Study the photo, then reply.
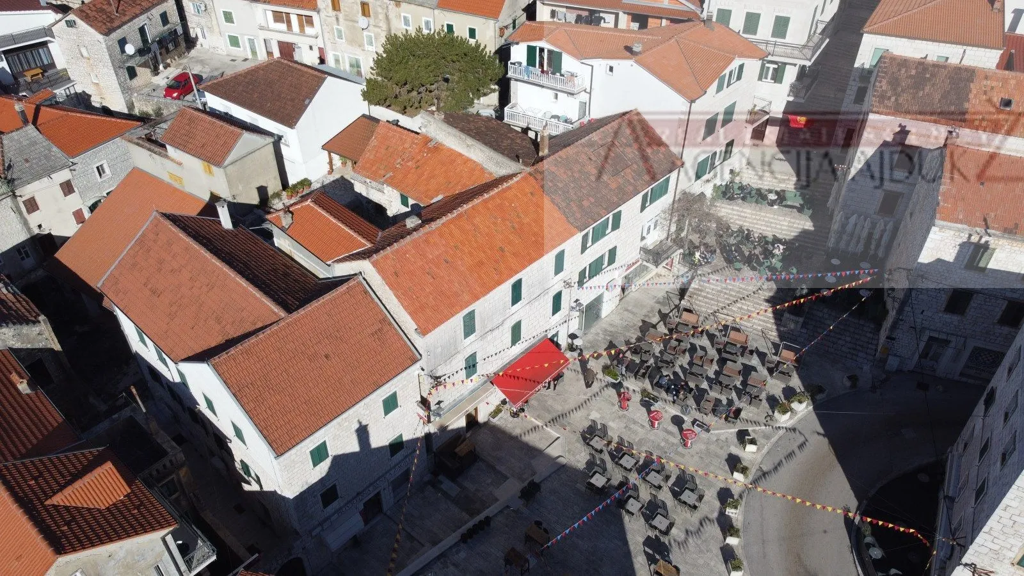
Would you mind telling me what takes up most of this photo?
buildings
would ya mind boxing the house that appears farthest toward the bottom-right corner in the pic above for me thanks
[913,337,1024,576]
